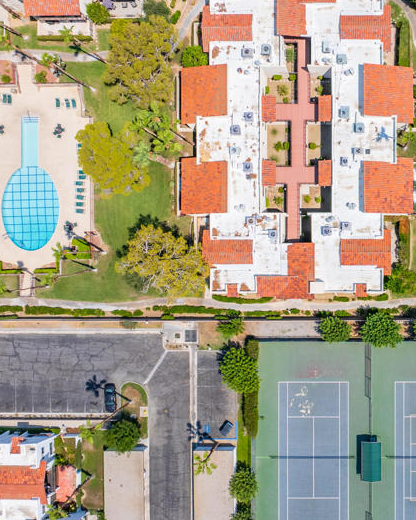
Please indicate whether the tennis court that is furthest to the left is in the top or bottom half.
bottom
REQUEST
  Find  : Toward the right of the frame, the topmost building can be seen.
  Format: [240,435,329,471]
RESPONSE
[181,0,414,298]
